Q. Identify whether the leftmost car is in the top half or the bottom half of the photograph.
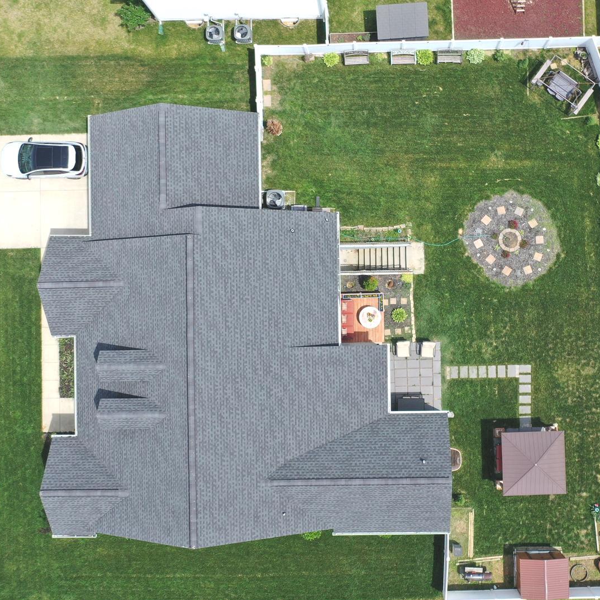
top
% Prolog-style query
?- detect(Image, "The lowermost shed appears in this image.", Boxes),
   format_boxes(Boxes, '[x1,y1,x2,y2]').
[512,542,569,600]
